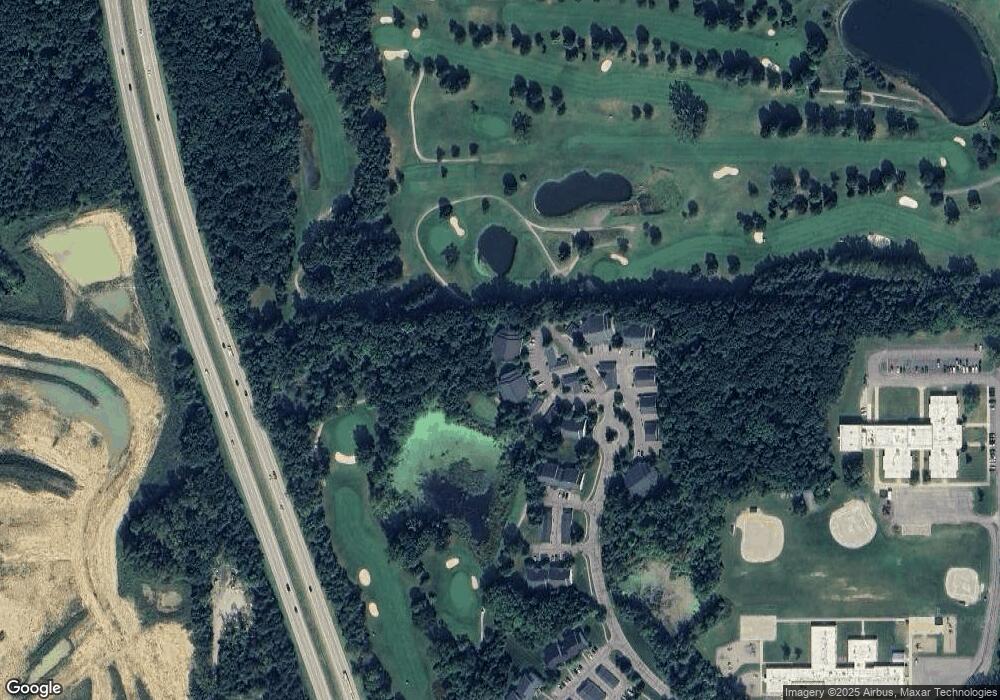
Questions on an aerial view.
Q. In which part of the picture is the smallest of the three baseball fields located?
bottom right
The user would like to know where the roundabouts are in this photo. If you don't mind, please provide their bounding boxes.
[594,417,629,451]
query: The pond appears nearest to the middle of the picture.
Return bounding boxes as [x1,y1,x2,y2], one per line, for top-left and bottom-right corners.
[479,225,518,278]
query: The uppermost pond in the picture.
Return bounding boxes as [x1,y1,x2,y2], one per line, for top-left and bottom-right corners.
[840,0,995,124]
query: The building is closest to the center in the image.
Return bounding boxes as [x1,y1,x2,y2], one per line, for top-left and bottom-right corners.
[494,331,520,363]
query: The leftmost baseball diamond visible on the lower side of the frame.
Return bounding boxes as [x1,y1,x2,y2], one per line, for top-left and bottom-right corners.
[736,512,784,563]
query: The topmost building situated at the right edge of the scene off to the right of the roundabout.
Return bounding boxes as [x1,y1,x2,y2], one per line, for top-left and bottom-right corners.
[839,394,962,478]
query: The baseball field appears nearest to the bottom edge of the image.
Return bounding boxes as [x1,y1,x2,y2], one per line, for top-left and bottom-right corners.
[946,567,979,605]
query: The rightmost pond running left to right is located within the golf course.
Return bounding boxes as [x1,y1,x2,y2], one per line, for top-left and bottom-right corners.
[534,170,632,217]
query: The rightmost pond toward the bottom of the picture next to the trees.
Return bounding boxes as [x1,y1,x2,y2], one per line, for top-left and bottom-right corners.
[414,458,501,542]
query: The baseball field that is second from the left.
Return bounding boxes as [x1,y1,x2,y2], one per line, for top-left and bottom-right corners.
[830,499,877,550]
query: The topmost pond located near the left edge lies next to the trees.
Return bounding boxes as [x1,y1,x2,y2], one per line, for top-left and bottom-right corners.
[43,226,120,284]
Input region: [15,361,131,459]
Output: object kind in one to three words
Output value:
pond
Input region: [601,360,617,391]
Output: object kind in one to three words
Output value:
building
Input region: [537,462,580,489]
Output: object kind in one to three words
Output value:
house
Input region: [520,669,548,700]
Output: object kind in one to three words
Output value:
house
